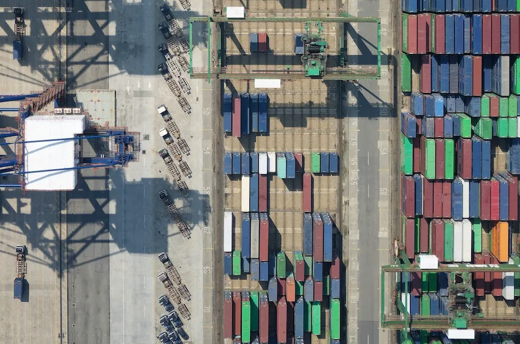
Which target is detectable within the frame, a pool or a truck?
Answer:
truck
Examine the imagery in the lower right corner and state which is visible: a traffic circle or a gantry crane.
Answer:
gantry crane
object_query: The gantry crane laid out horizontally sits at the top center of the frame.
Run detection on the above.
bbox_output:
[189,0,381,91]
